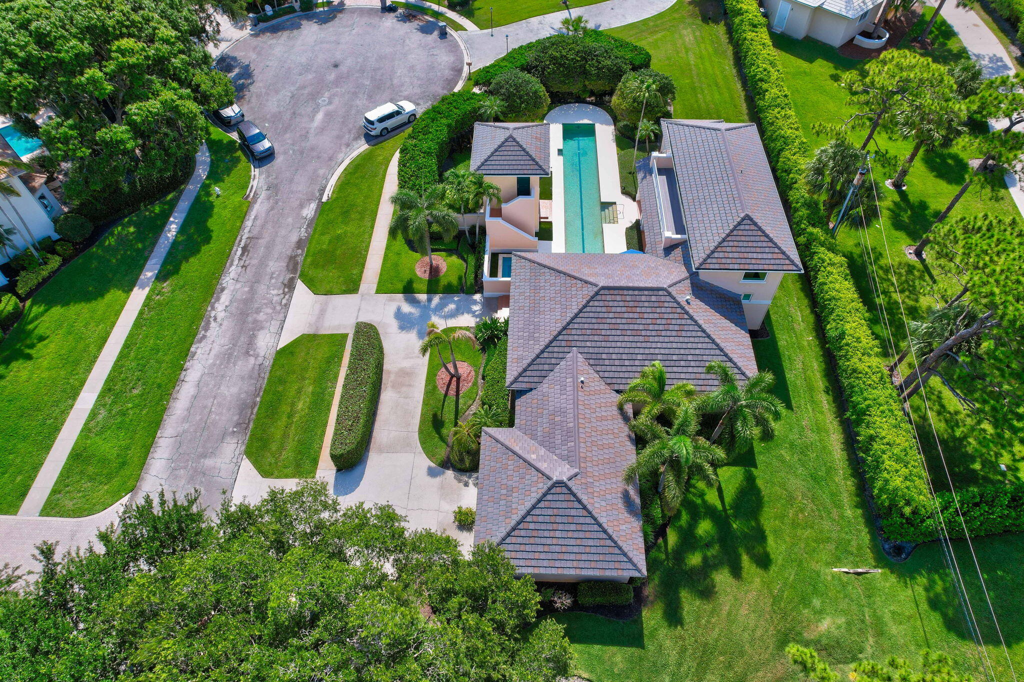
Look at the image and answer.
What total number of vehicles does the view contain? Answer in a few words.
three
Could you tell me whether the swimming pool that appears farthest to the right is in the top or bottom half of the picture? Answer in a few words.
top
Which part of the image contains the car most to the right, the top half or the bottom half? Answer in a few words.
top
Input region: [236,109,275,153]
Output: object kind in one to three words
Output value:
car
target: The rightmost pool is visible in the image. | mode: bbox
[557,123,629,252]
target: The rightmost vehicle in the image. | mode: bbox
[360,99,420,136]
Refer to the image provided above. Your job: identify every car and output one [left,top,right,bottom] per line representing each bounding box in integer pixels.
[202,83,247,121]
[360,99,420,136]
[236,109,275,153]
